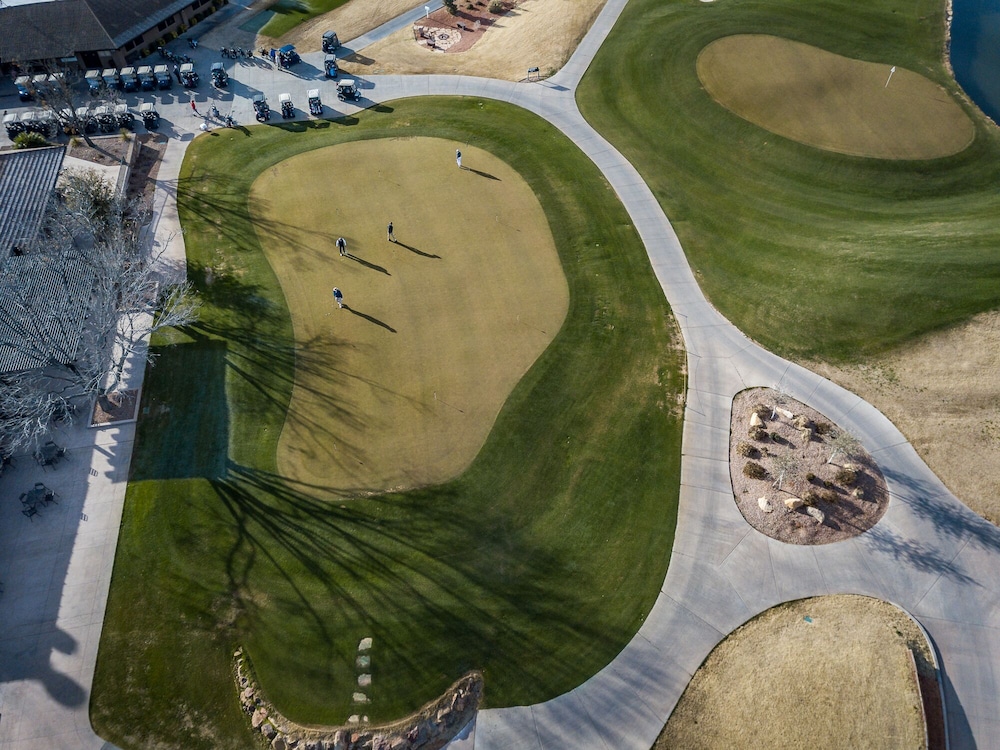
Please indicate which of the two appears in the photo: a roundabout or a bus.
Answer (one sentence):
Looking from above, you can make out a roundabout.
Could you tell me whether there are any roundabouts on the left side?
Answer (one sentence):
No, no roundabout is visible on the left side.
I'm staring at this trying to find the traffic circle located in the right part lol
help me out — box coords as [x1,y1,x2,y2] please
[729,386,890,545]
